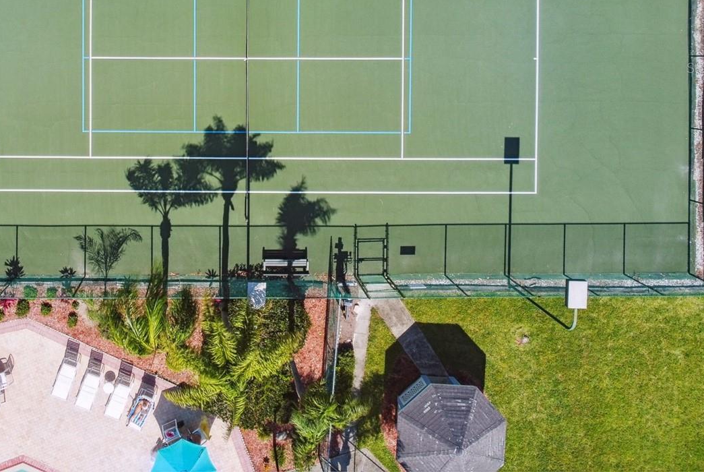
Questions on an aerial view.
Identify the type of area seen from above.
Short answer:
sports ground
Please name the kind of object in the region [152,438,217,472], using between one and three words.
umbrella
